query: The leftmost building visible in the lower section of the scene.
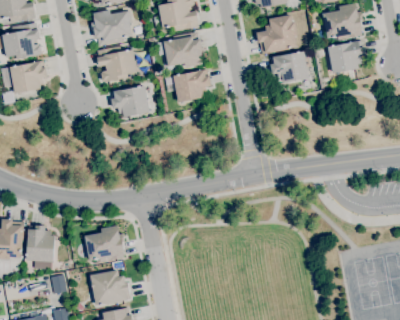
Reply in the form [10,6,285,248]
[0,220,26,260]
